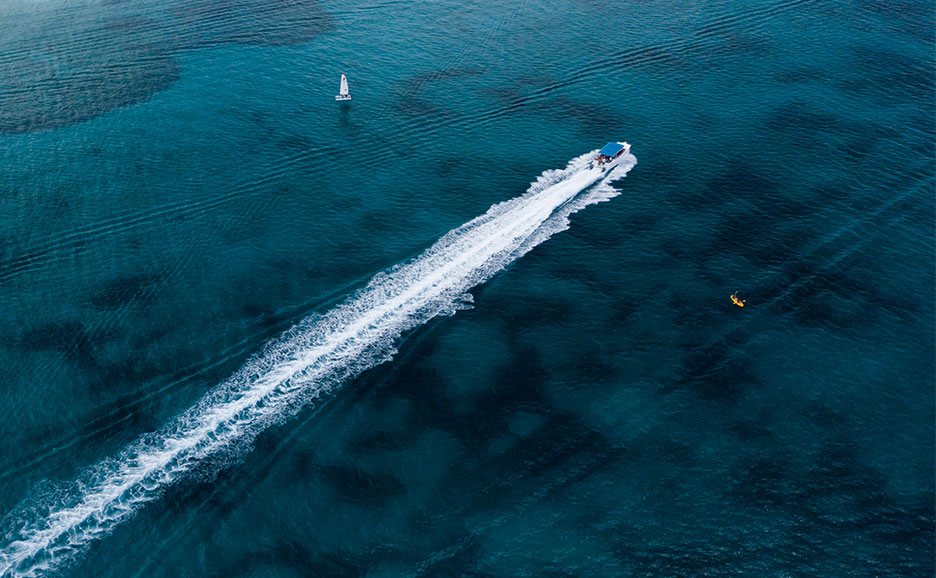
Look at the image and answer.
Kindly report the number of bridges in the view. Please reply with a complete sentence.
Not a single bridge can be seen.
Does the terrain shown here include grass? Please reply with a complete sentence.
No, the picture contains no grass.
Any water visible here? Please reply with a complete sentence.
Yes, water can be seen from above here.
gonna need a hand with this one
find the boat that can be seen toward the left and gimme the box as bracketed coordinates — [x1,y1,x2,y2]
[336,72,353,101]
